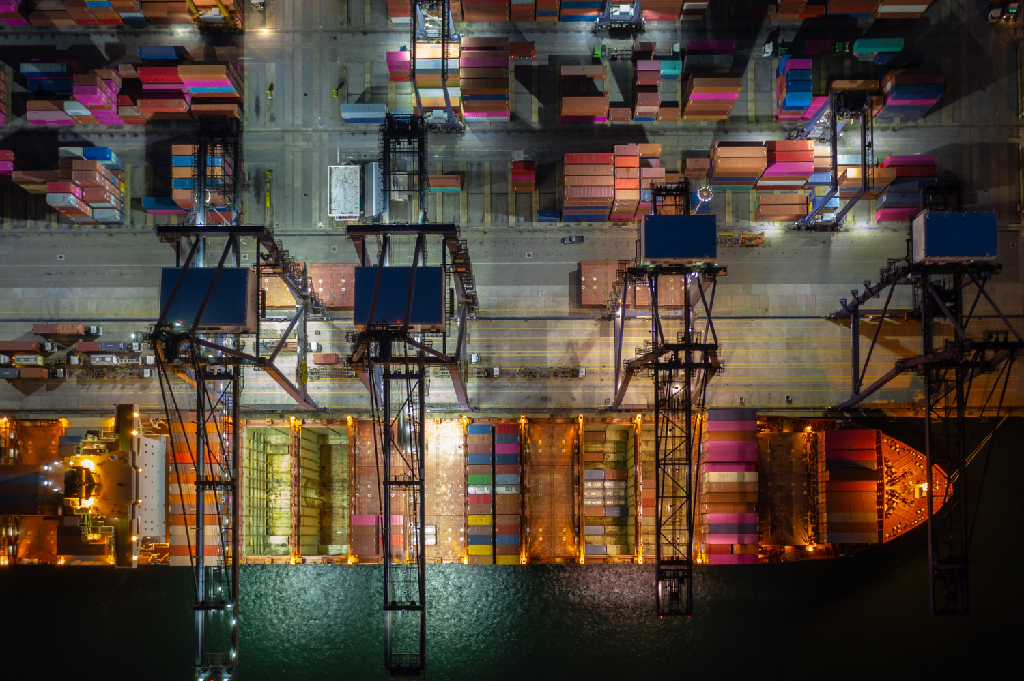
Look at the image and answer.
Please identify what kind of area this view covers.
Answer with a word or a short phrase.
port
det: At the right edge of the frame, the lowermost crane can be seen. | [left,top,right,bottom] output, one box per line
[815,163,1024,617]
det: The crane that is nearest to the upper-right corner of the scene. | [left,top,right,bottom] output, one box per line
[791,80,872,227]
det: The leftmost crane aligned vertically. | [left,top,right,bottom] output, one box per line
[131,110,341,679]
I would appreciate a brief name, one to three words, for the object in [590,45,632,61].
vehicle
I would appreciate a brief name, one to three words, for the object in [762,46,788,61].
vehicle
